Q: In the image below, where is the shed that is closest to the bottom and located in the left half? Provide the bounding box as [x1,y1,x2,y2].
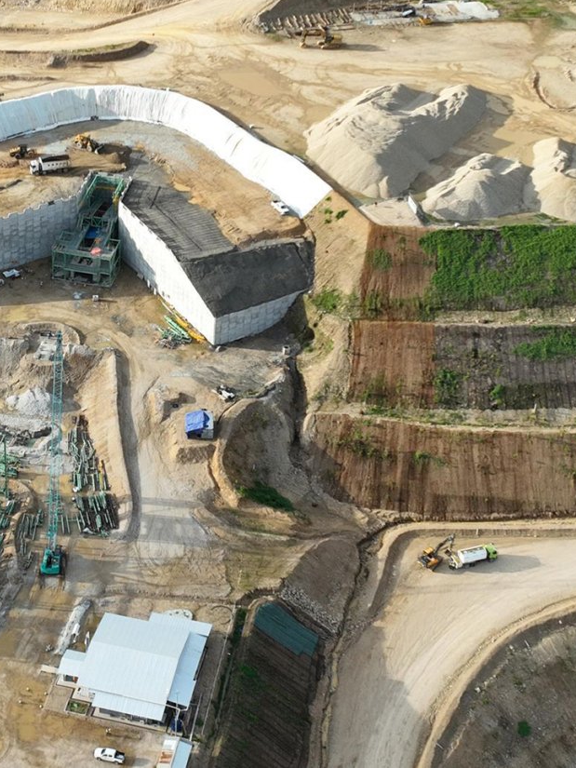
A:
[156,737,191,768]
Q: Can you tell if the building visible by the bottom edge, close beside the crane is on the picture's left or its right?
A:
left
